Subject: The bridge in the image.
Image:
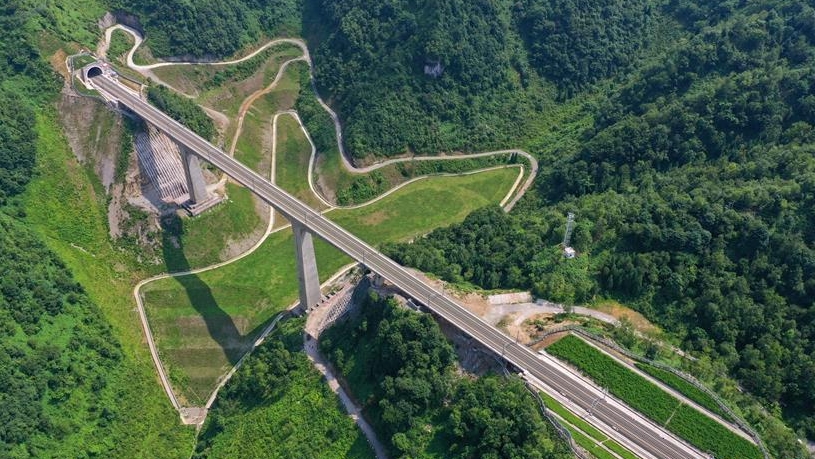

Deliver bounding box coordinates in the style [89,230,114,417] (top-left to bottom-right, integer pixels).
[114,91,544,377]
